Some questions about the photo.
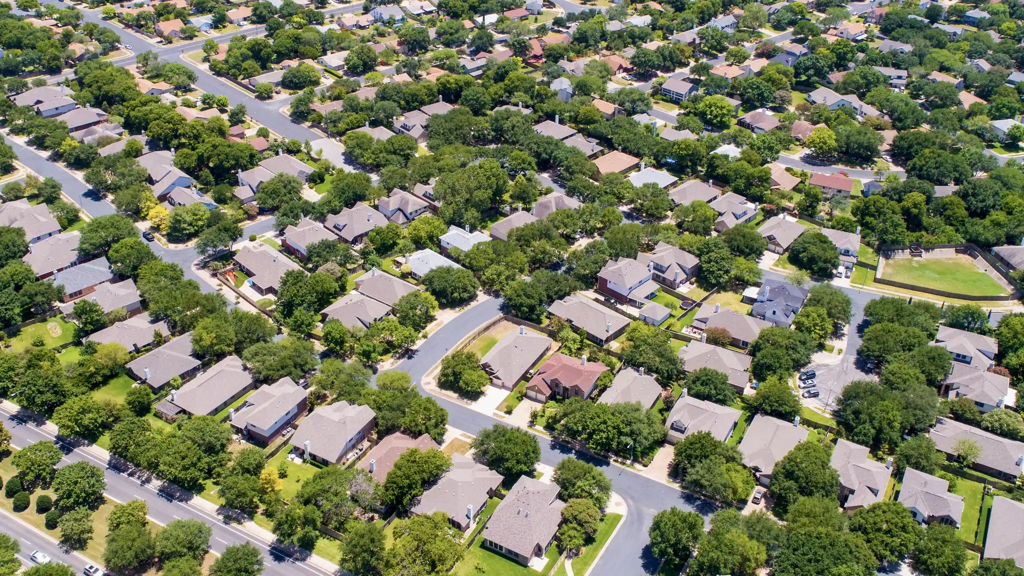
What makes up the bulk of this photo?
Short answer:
trees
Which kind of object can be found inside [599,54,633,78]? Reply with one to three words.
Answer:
house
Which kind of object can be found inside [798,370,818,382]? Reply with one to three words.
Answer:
vehicle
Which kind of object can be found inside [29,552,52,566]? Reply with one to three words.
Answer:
car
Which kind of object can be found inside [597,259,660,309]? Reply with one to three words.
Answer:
house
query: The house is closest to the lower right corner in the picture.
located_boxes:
[984,496,1024,571]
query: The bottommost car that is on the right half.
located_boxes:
[750,487,765,504]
